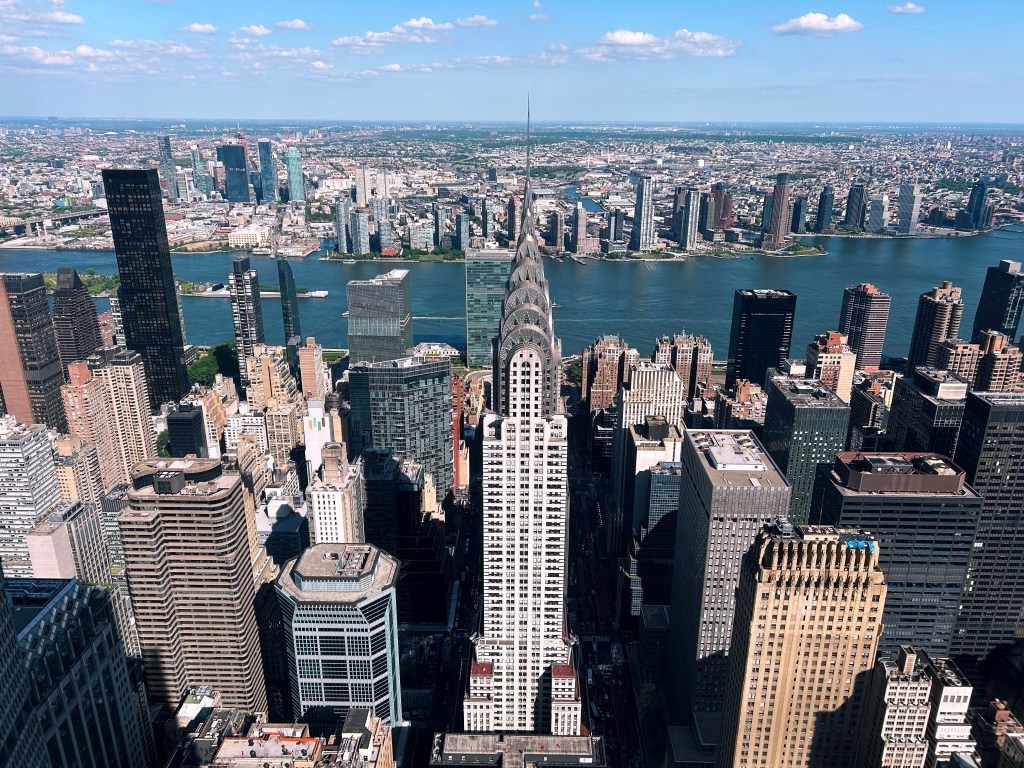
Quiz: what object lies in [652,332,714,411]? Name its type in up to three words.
building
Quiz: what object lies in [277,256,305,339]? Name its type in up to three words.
building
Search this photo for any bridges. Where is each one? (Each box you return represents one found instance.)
[0,211,110,238]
